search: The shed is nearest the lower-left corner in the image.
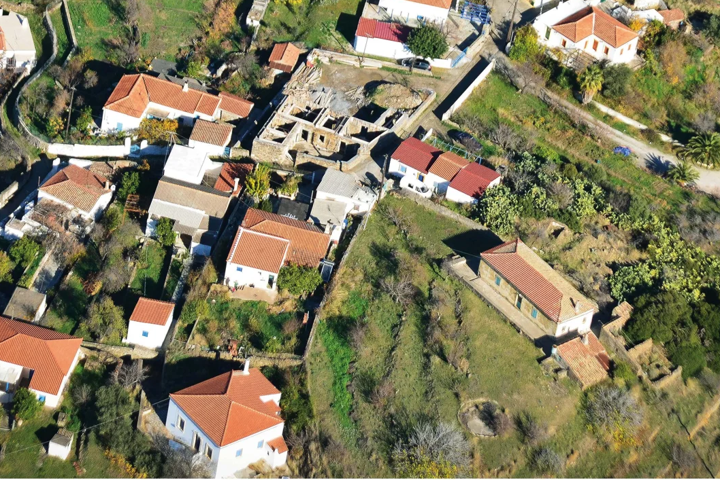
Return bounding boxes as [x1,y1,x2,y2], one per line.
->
[50,429,75,459]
